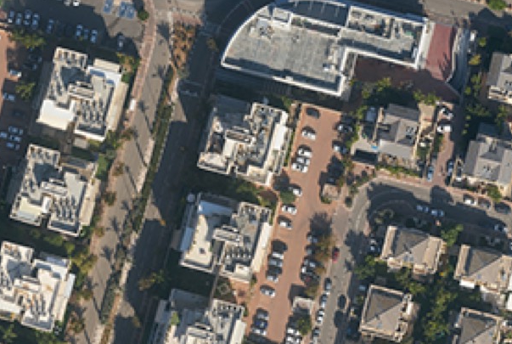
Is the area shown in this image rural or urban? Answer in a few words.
urban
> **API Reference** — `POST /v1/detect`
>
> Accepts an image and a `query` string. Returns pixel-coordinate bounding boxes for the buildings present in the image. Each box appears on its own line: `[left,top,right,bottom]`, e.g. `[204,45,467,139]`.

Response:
[10,144,109,244]
[35,46,135,148]
[457,243,512,299]
[222,0,428,100]
[485,58,512,109]
[187,93,293,194]
[361,286,418,344]
[172,193,279,292]
[449,307,505,344]
[380,225,446,281]
[322,184,341,201]
[461,124,512,195]
[0,241,84,339]
[293,295,315,314]
[147,289,254,344]
[369,103,423,172]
